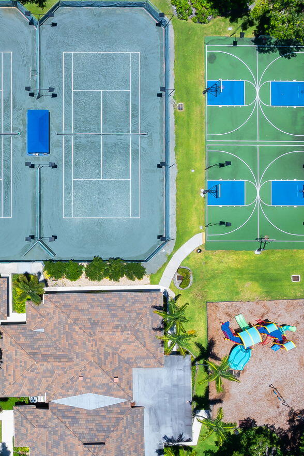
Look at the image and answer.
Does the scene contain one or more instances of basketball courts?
Yes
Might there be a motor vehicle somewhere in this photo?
No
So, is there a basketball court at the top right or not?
Yes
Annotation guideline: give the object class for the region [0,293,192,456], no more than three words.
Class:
building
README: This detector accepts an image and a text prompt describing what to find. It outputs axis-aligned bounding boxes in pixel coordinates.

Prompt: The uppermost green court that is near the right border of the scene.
[205,36,304,143]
